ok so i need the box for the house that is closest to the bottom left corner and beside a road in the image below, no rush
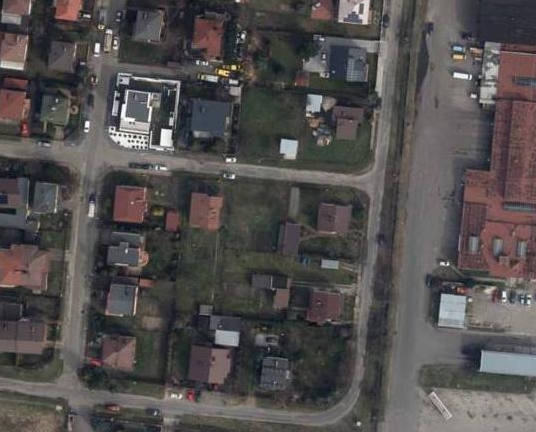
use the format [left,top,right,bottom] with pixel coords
[0,304,48,354]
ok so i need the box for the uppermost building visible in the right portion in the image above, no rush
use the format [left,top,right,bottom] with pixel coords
[338,0,371,26]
